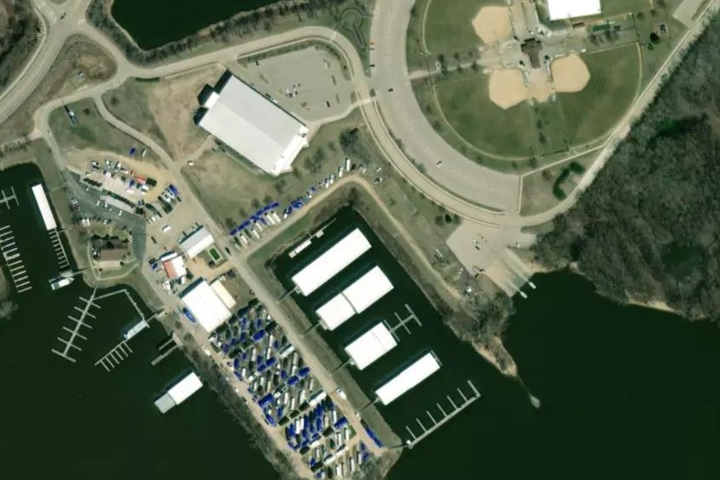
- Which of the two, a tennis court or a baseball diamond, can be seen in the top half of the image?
baseball diamond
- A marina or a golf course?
marina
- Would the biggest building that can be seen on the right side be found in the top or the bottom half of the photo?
top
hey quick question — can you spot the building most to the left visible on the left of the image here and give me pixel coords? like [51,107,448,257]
[92,241,129,261]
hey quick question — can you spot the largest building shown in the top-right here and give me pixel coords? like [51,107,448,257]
[523,40,543,68]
